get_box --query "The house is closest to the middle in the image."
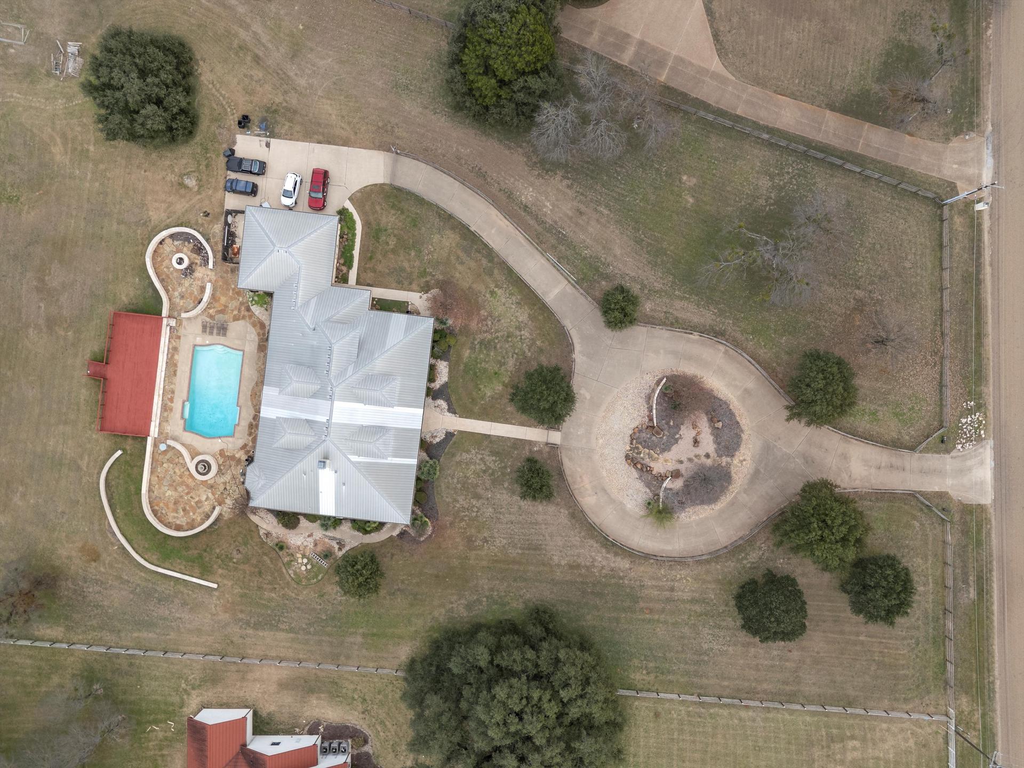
[236,204,434,525]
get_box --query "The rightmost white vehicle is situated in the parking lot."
[281,172,303,210]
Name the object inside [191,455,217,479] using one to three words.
fountain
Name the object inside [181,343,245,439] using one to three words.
swimming pool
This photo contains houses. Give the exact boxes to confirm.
[188,708,351,768]
[236,204,434,525]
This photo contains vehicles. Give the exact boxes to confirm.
[308,168,330,212]
[225,157,269,177]
[281,172,303,210]
[225,178,261,198]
